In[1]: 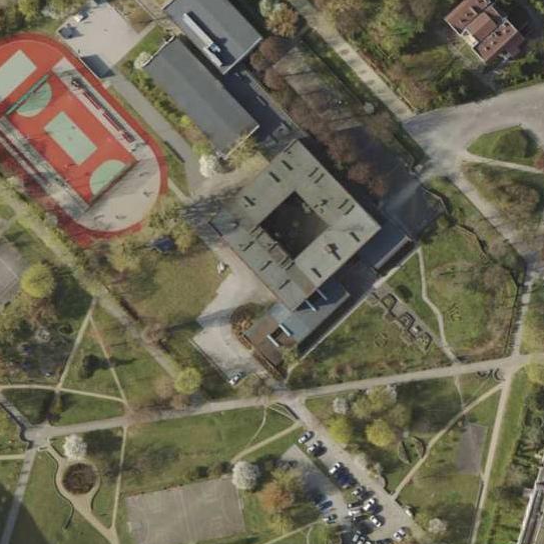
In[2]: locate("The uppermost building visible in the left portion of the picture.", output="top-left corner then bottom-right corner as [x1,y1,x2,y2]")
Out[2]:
[164,0,262,76]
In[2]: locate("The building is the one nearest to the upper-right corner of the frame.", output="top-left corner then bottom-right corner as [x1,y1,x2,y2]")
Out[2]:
[443,0,525,64]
